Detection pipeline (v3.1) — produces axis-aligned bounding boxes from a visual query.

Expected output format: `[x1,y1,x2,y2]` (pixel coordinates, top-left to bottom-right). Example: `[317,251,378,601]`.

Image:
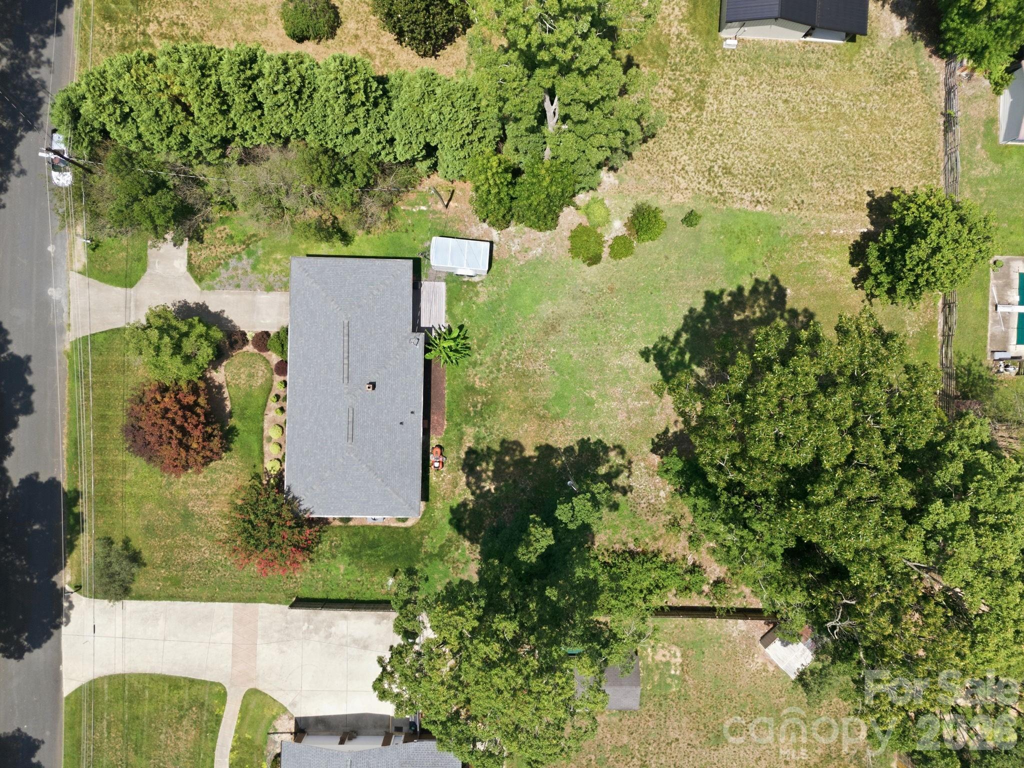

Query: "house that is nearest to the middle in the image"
[284,256,437,518]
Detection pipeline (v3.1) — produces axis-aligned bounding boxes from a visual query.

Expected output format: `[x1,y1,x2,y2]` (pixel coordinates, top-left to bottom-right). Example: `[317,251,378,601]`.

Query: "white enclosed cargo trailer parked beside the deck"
[419,238,490,275]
